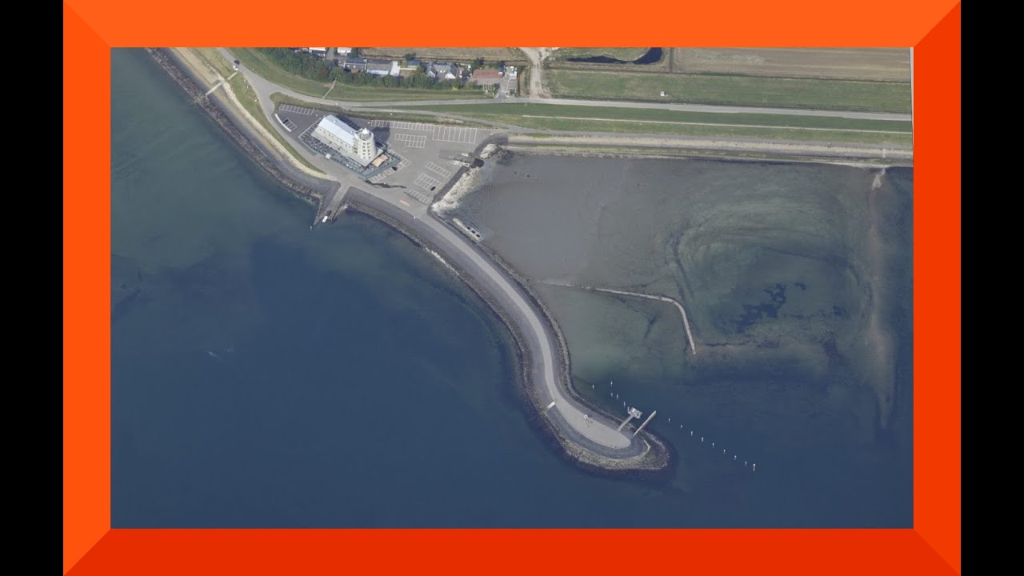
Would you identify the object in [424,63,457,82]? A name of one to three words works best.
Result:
house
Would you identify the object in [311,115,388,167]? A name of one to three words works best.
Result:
building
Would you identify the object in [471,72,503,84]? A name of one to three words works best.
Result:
house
